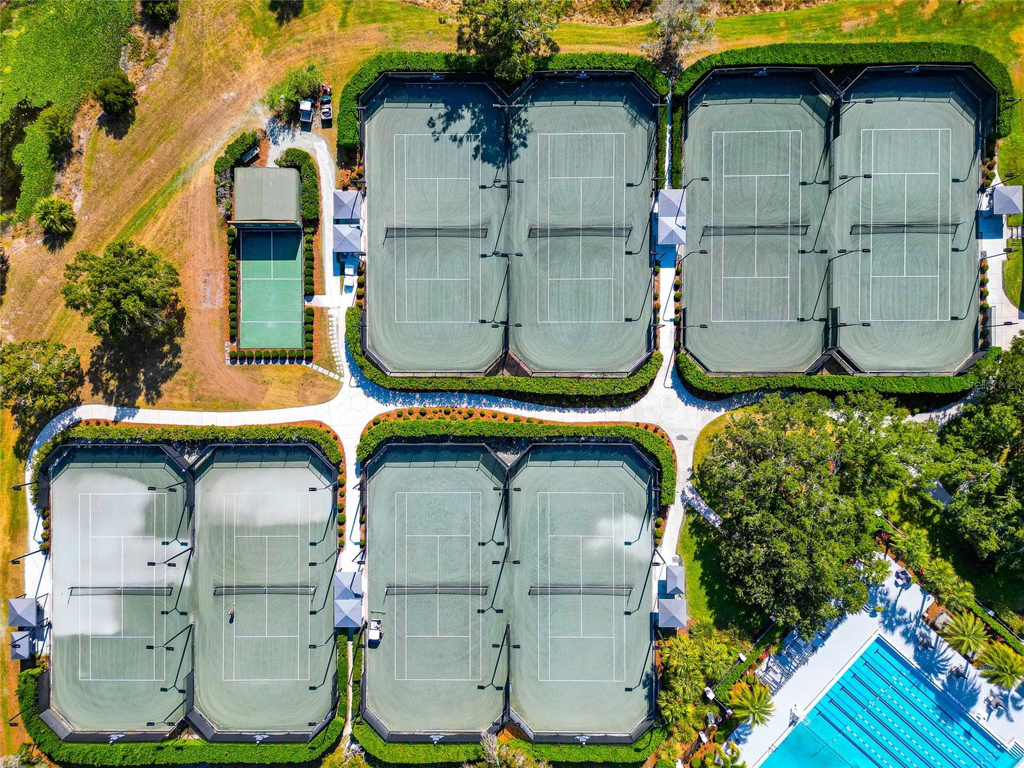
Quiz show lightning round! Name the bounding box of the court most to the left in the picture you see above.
[50,444,194,732]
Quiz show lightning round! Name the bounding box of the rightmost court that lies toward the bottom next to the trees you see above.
[510,443,654,733]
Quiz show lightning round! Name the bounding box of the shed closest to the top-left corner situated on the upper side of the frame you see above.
[236,167,306,222]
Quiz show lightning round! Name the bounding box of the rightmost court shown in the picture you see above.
[831,77,982,372]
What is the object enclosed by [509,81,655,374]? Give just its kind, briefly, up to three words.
tennis court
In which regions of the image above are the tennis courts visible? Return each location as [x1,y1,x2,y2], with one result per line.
[365,82,509,374]
[509,81,655,374]
[831,77,982,372]
[682,79,831,372]
[194,445,340,732]
[50,444,194,732]
[366,441,510,732]
[510,443,654,733]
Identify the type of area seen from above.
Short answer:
sports ground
